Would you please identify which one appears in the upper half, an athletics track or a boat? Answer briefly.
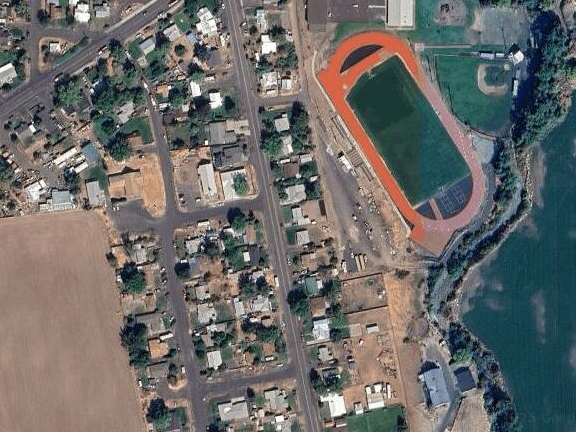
athletics track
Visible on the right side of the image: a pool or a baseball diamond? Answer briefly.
baseball diamond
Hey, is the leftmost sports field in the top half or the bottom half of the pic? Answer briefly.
top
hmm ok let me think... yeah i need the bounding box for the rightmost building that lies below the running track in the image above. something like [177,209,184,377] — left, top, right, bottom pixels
[456,367,477,393]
